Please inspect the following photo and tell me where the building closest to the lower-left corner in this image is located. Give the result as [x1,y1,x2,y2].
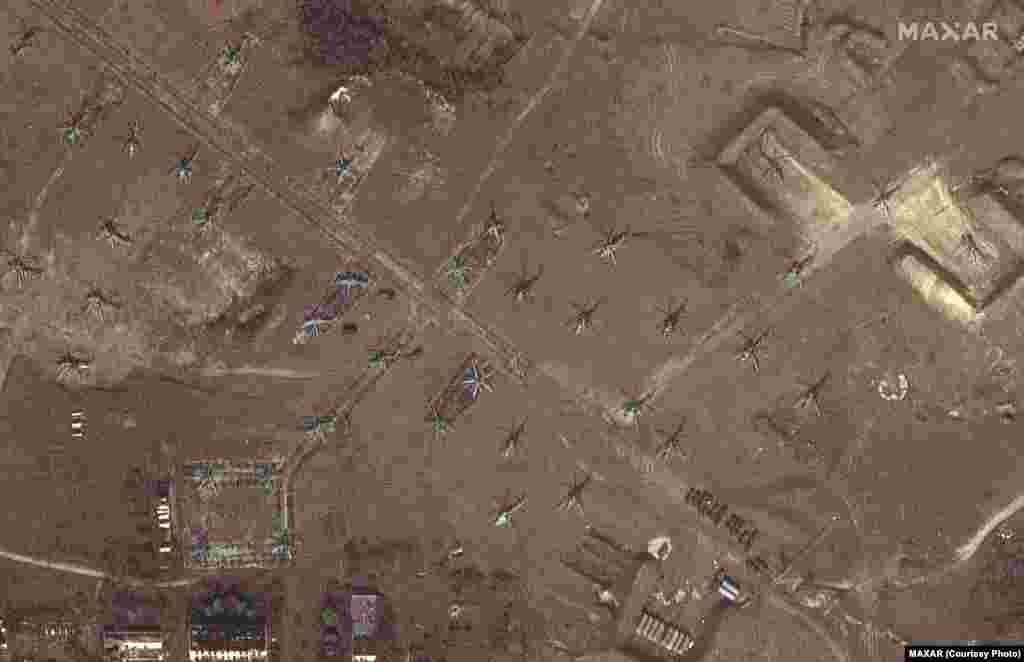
[103,633,123,660]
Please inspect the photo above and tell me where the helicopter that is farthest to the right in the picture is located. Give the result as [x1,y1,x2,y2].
[958,228,988,261]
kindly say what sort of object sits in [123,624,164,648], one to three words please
building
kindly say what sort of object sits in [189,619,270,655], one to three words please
building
